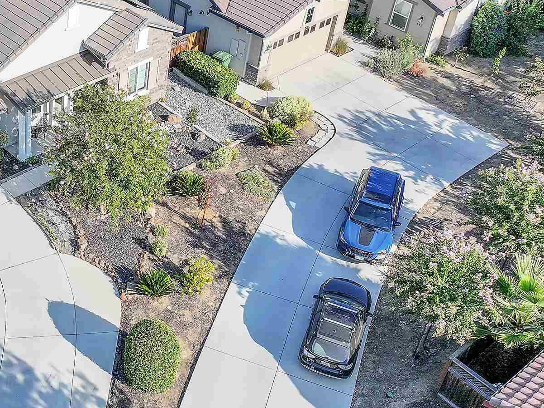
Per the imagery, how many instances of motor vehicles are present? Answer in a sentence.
In total, 2 motor vehicles can be seen.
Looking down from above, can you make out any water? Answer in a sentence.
No, the scene doesn't show any water.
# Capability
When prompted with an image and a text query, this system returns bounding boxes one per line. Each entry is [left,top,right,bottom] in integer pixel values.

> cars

[303,267,379,375]
[336,166,396,259]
